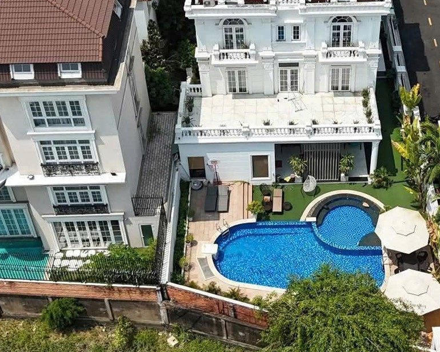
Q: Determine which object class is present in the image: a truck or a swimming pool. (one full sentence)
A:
It is a swimming pool that can be seen here.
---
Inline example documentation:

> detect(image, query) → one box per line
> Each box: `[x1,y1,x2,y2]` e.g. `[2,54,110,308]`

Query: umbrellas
[382,270,440,327]
[373,212,428,257]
